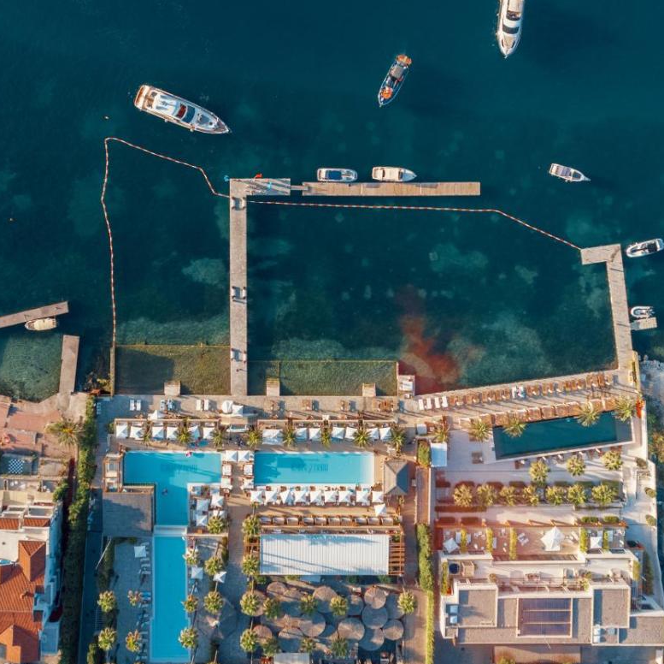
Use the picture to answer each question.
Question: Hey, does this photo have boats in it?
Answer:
Yes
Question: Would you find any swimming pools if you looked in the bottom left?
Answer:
Yes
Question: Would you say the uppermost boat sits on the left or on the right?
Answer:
right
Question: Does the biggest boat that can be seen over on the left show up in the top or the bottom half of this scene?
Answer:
top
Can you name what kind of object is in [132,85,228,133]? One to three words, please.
boat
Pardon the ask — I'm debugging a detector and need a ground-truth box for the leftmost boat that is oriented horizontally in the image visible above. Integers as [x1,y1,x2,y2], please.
[25,318,58,331]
